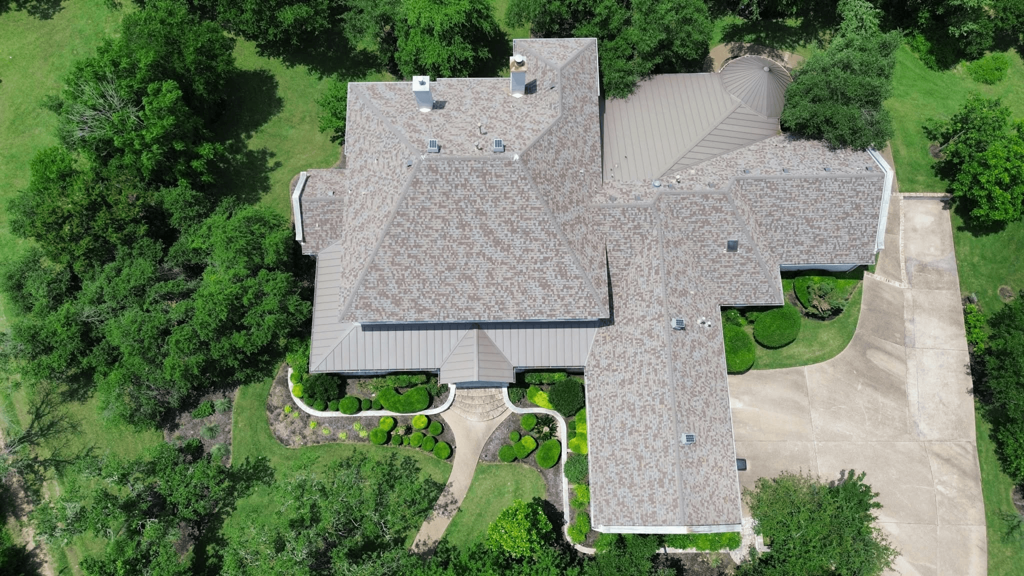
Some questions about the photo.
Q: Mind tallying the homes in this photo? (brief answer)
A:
1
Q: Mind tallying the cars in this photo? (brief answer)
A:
zero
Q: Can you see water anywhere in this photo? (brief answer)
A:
No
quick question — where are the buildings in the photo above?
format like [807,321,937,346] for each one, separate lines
[292,37,892,534]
